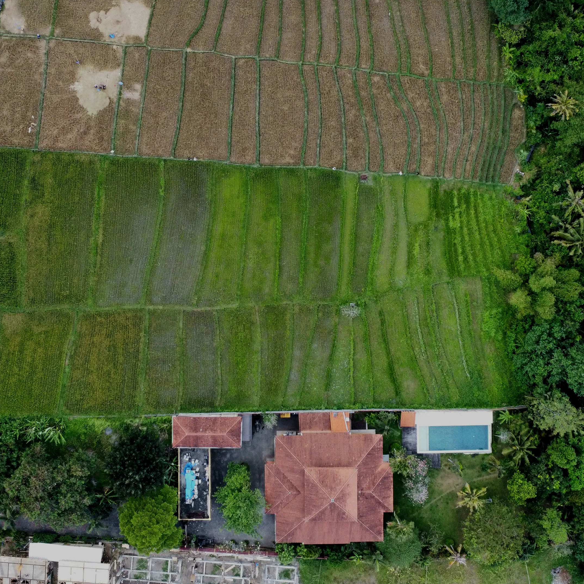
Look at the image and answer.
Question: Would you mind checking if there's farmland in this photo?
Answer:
Yes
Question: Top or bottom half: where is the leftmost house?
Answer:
bottom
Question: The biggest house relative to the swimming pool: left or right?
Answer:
to the left of it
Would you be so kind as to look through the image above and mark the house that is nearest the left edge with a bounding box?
[172,416,242,448]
